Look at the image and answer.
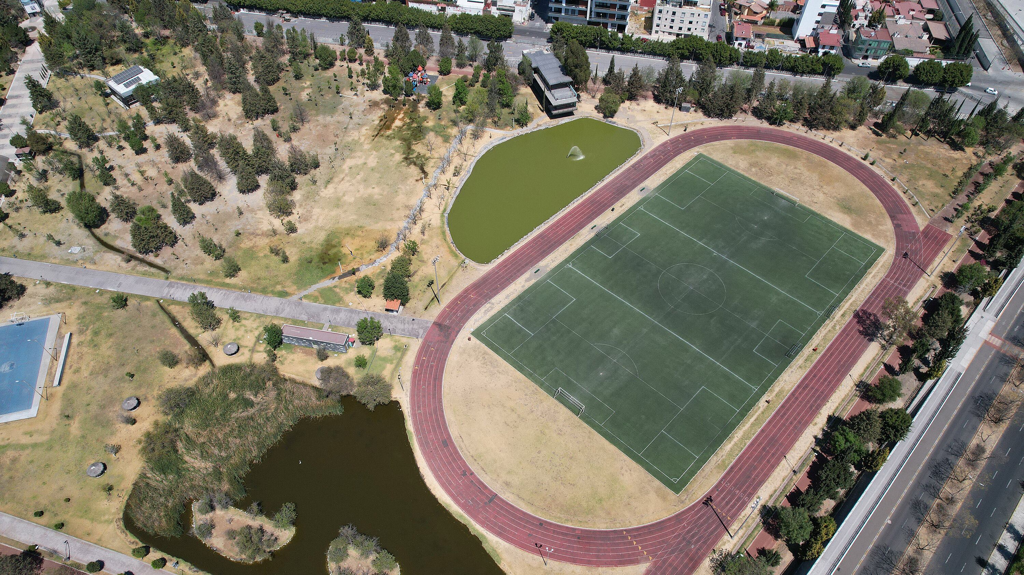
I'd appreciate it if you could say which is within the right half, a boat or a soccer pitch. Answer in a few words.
soccer pitch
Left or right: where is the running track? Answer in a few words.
right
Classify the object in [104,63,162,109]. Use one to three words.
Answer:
building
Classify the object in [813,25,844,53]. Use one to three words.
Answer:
house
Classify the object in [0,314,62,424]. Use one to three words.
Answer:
sports court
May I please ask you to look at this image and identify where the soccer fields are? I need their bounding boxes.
[469,152,887,497]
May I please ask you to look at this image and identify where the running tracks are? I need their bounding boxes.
[409,126,954,575]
